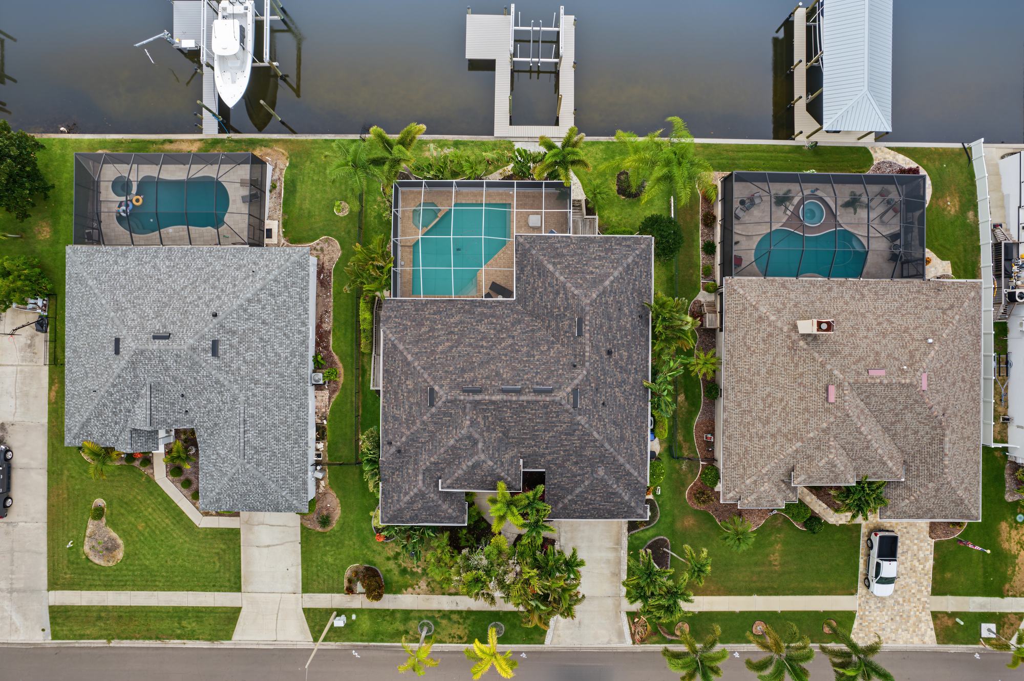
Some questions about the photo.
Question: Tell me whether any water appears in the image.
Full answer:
Yes, some water is visible.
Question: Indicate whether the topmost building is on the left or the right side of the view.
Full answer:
You can find the topmost building on the right side of the picture.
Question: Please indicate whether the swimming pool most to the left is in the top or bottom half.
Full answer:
It is in the top half that the swimming pool most to the left appears.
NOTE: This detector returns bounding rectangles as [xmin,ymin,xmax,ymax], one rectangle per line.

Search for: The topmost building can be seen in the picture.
[799,0,897,143]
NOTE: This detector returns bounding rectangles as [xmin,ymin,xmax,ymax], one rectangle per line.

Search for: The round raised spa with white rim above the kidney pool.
[800,200,825,225]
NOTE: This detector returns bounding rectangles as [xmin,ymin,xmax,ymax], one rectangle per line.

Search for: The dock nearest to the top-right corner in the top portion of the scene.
[794,7,874,141]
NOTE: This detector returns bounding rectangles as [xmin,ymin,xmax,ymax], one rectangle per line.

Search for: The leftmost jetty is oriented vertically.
[174,0,231,136]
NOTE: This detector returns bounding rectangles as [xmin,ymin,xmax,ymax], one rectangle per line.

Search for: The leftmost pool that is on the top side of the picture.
[108,173,133,198]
